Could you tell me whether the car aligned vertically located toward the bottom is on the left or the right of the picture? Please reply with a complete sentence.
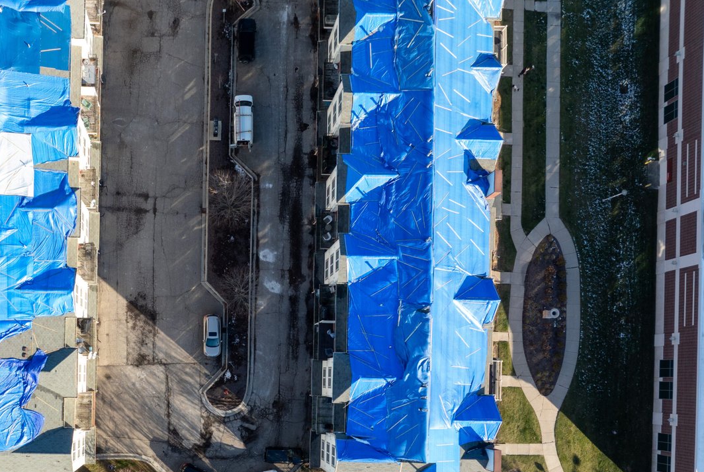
The car aligned vertically located toward the bottom appears in the left half of the scene.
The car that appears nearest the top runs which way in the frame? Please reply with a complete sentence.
I'd say the car that appears nearest the top is aligned vertically in the picture.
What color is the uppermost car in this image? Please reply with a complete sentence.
From above, the uppermost car appears black.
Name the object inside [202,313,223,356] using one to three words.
car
